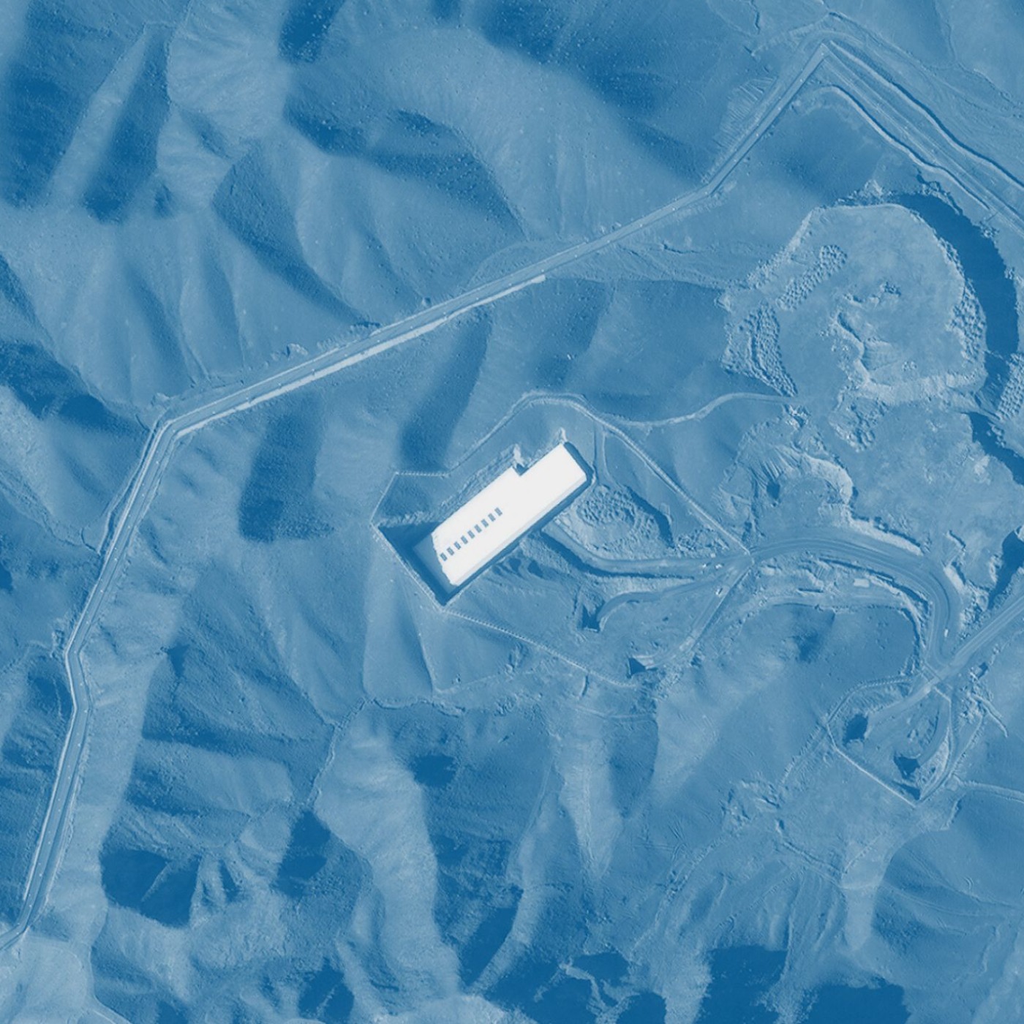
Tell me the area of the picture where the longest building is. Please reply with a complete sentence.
The longest building is in the center part of the image.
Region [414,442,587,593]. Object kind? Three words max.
building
